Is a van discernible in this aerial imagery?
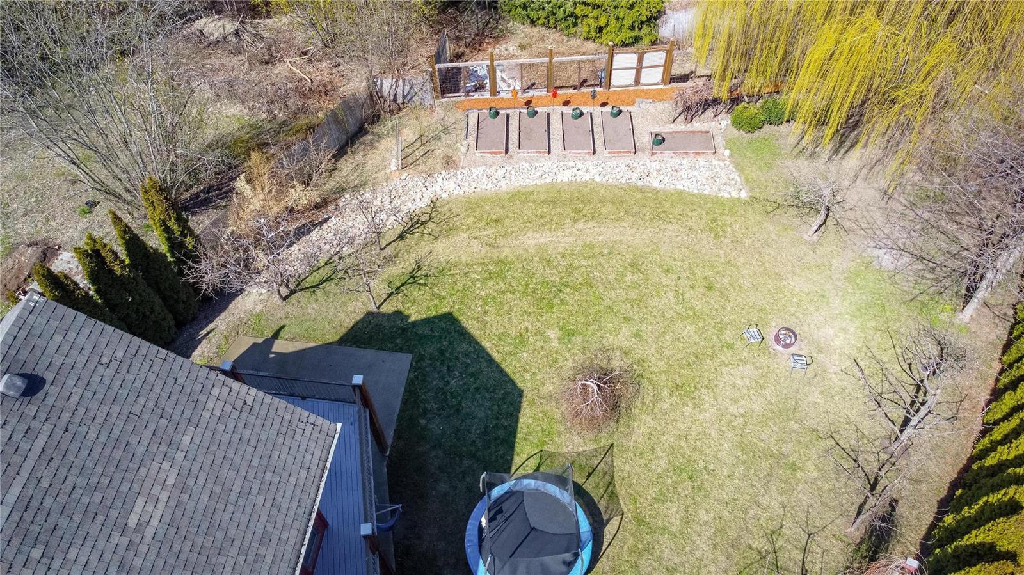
No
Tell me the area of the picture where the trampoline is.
bottom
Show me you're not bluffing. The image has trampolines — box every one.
[464,466,595,575]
